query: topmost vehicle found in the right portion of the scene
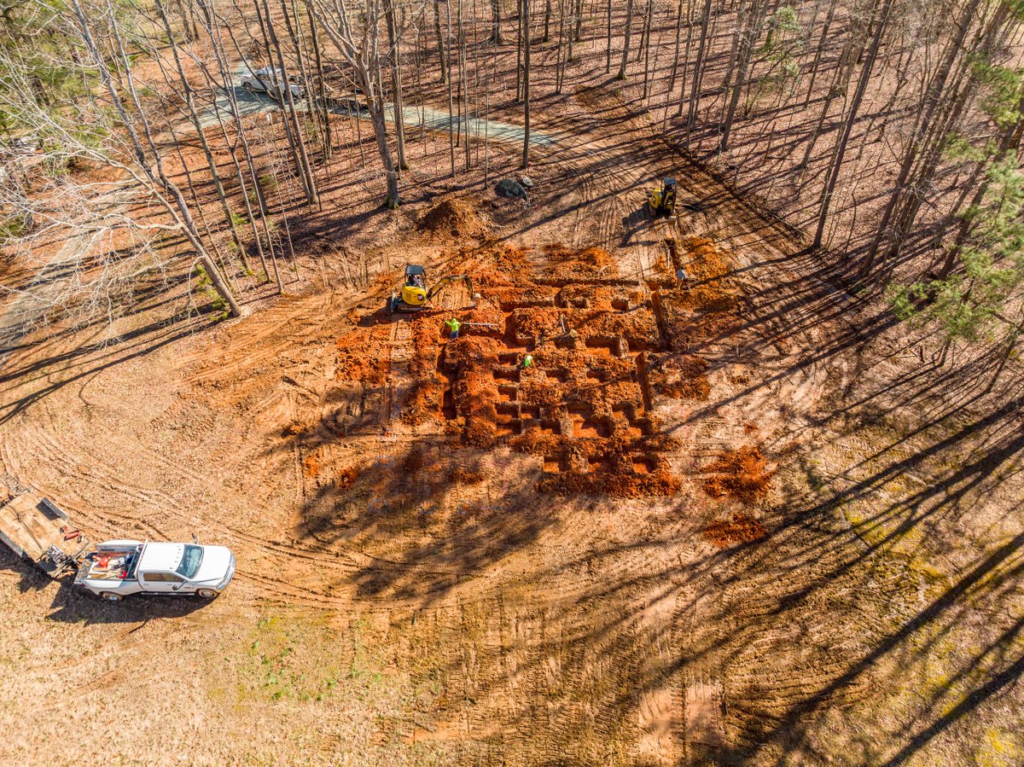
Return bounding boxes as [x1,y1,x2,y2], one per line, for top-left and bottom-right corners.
[647,178,678,223]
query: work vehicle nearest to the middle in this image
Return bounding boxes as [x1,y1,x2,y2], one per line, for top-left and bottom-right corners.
[389,267,475,311]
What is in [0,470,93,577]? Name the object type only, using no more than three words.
trailer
